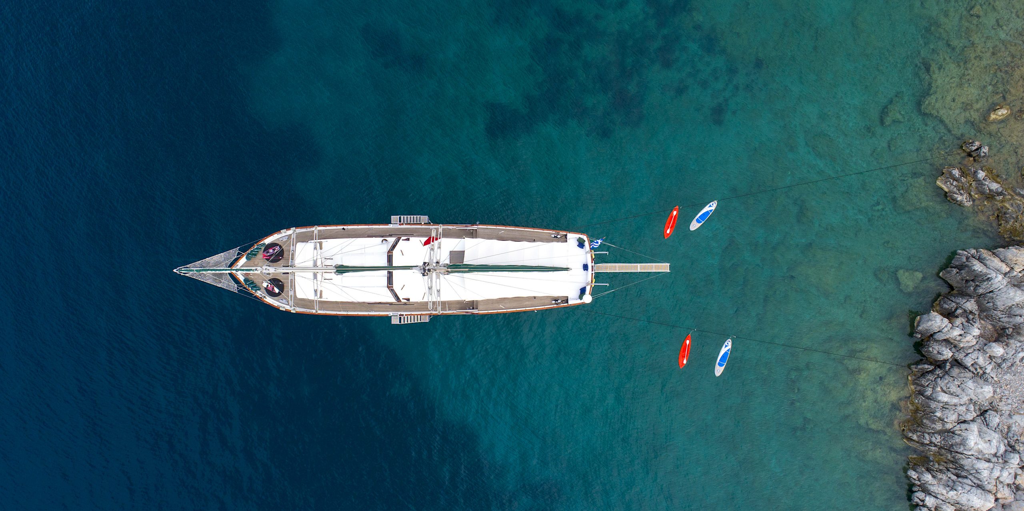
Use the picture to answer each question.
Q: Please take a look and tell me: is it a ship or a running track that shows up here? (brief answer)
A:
ship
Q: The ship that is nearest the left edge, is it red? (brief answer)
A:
No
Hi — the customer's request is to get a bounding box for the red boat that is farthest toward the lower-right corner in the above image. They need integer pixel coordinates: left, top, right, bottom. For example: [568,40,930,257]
[679,330,694,369]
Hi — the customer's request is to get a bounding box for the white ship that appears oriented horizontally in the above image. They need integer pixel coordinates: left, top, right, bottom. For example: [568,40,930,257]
[173,216,670,324]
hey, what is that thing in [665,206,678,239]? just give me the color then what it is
red boat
